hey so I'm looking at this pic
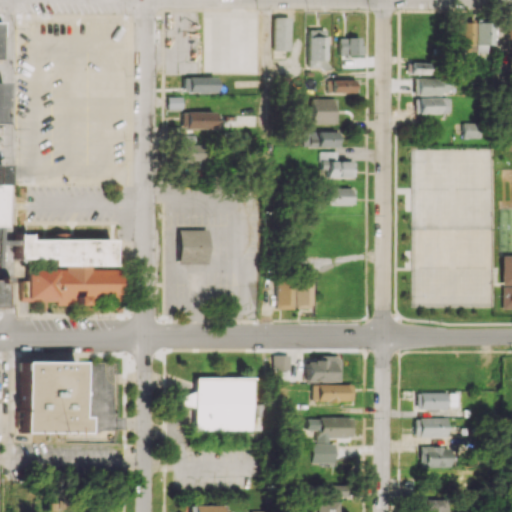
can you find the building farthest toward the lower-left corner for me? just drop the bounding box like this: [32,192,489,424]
[20,361,98,434]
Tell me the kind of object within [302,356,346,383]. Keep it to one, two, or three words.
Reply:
house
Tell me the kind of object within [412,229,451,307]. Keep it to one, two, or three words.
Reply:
tennis court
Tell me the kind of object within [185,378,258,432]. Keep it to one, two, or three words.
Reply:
building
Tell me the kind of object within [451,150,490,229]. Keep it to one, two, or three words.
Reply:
tennis court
